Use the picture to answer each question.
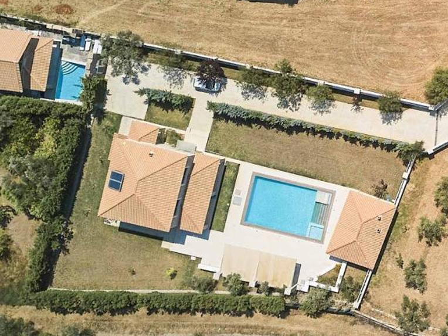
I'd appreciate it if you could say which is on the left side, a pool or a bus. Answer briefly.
pool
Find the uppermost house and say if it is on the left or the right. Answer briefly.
left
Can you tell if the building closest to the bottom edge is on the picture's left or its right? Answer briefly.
right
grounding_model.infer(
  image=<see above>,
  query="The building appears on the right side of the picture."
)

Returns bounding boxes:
[325,190,395,271]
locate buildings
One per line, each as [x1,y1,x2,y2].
[325,190,395,271]
[97,118,221,234]
[0,30,61,93]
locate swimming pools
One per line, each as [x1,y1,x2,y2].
[52,58,88,103]
[239,172,333,244]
